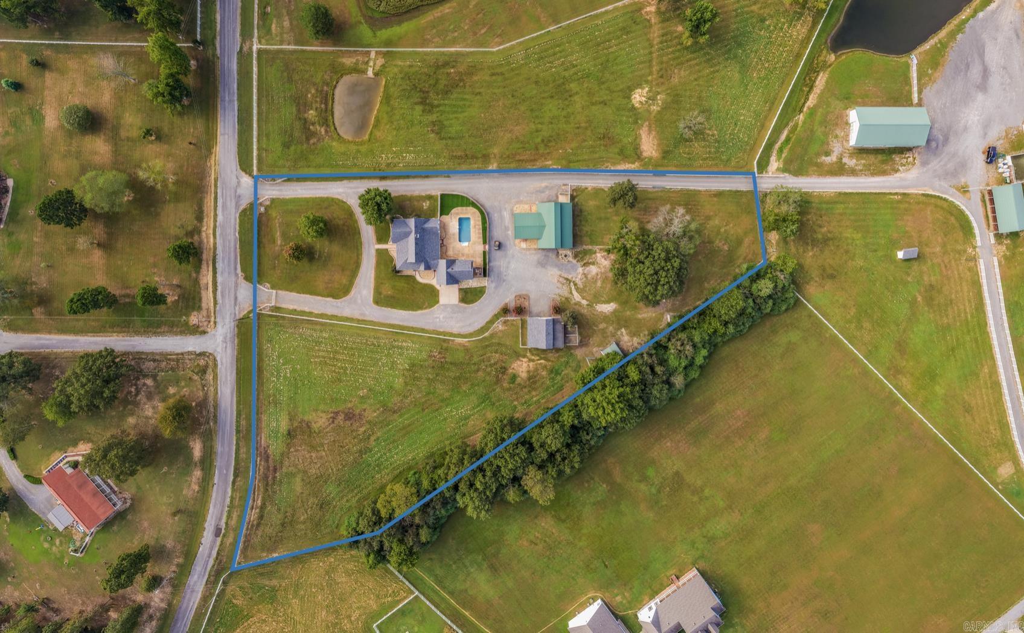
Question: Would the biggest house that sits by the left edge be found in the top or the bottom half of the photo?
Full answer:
Seen from above, the biggest house that sits by the left edge lies in the bottom half of the view.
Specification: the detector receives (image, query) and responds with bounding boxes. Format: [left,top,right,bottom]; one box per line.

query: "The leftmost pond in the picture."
[334,75,385,140]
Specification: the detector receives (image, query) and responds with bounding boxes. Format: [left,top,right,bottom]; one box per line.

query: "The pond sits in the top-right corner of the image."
[828,0,973,57]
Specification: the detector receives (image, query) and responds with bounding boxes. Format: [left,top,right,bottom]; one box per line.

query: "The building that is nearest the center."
[527,317,564,349]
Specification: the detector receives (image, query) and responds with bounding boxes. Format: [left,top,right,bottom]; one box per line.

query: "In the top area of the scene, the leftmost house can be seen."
[391,217,473,285]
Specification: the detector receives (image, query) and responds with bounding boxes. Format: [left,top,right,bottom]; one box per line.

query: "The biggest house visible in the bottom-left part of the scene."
[41,466,116,534]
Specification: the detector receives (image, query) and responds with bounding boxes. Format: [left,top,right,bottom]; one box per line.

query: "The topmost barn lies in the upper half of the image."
[848,106,931,148]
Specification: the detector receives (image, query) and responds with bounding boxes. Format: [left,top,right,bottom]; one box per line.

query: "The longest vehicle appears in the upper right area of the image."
[986,145,998,163]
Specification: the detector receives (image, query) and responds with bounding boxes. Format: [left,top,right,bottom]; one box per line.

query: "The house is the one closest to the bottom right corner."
[638,573,726,633]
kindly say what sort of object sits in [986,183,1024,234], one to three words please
barn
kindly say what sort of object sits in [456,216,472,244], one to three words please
swimming pool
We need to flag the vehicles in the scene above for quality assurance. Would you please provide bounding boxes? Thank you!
[986,145,998,163]
[494,241,499,249]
